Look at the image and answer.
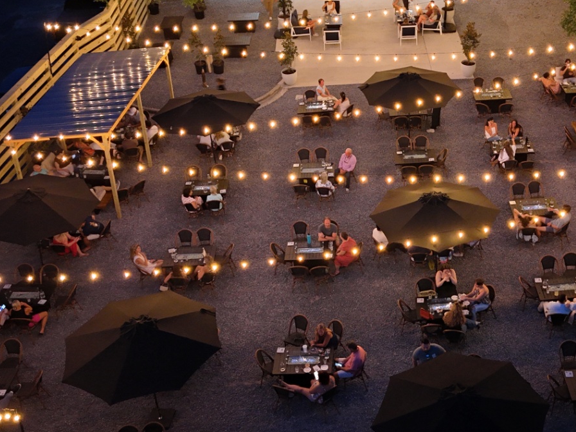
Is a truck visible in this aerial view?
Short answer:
No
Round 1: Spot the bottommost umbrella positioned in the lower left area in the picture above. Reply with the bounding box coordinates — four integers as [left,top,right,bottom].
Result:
[68,292,224,415]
